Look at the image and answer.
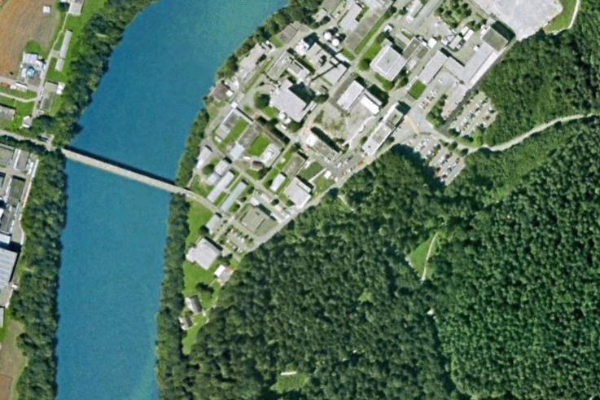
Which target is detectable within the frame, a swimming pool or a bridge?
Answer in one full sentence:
The one in the frame is a bridge.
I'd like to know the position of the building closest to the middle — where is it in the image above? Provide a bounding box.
[283,178,312,208]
